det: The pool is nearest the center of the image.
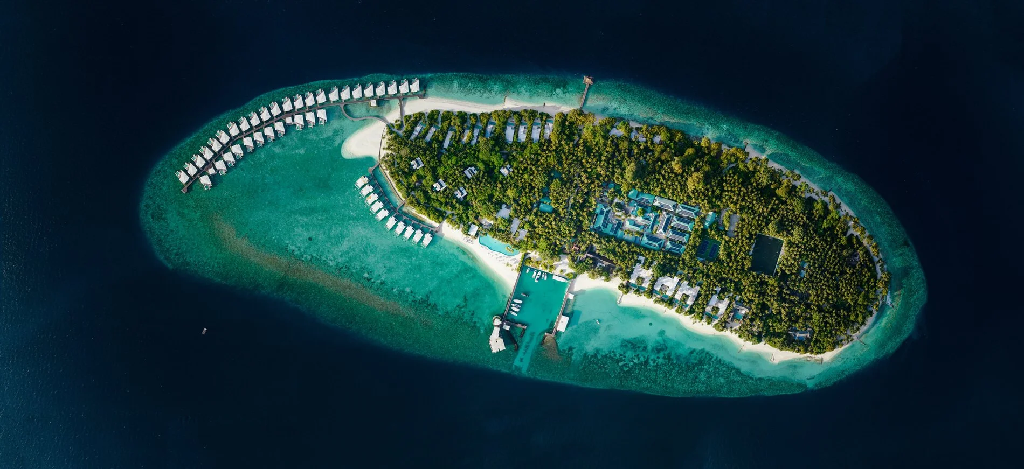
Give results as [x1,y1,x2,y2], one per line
[479,234,520,256]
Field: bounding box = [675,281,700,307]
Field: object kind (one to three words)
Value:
house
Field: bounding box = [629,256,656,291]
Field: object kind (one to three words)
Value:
house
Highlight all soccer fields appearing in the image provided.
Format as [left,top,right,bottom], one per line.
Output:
[750,234,785,276]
